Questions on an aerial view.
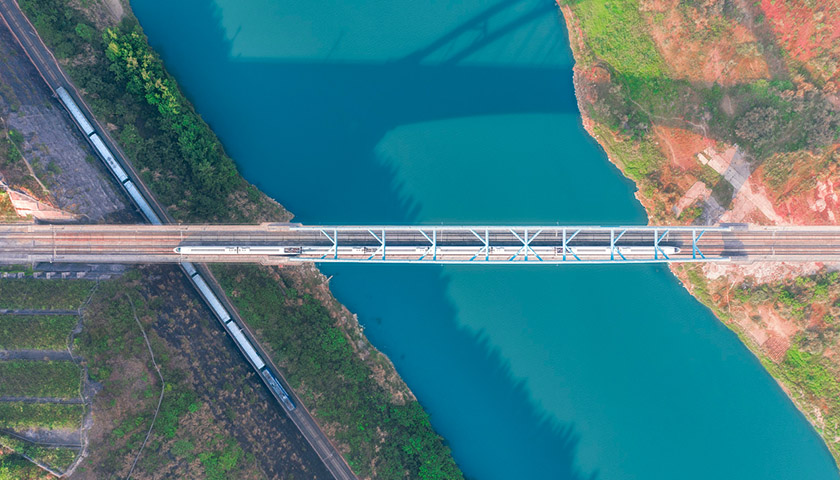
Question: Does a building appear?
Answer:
No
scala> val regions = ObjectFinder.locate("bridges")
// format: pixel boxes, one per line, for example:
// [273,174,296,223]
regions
[0,222,840,265]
